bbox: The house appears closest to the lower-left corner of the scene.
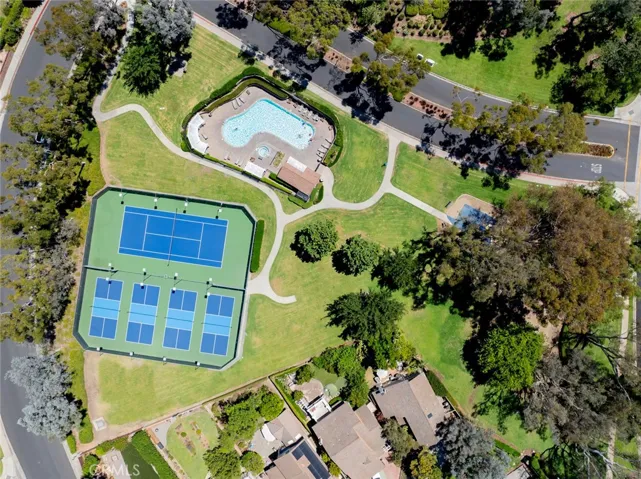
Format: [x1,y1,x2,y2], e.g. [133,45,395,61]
[266,436,332,479]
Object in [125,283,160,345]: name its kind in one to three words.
sports court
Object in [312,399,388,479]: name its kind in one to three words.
house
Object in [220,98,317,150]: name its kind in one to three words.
swimming pool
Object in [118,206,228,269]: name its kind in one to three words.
tennis court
